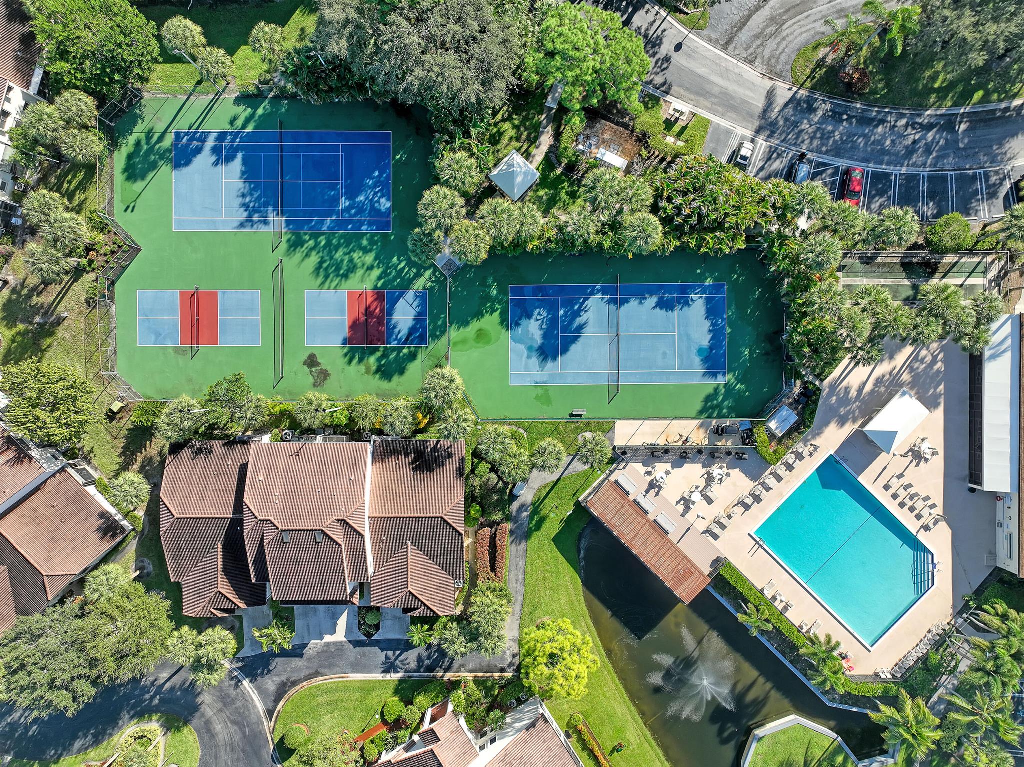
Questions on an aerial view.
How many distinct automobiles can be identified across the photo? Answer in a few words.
3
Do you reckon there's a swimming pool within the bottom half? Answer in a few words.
Yes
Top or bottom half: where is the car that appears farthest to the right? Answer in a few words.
top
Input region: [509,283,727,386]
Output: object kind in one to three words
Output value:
tennis court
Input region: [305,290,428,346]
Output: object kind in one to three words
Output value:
sports court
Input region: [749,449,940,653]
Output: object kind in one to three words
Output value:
swimming pool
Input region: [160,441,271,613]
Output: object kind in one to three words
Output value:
house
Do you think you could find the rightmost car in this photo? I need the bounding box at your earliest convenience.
[842,164,866,207]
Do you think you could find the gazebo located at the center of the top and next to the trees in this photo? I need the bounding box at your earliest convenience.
[488,151,540,206]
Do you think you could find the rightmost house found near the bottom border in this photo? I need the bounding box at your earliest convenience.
[458,697,584,767]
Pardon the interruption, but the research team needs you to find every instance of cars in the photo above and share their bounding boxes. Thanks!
[842,164,866,207]
[733,136,757,176]
[789,154,817,186]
